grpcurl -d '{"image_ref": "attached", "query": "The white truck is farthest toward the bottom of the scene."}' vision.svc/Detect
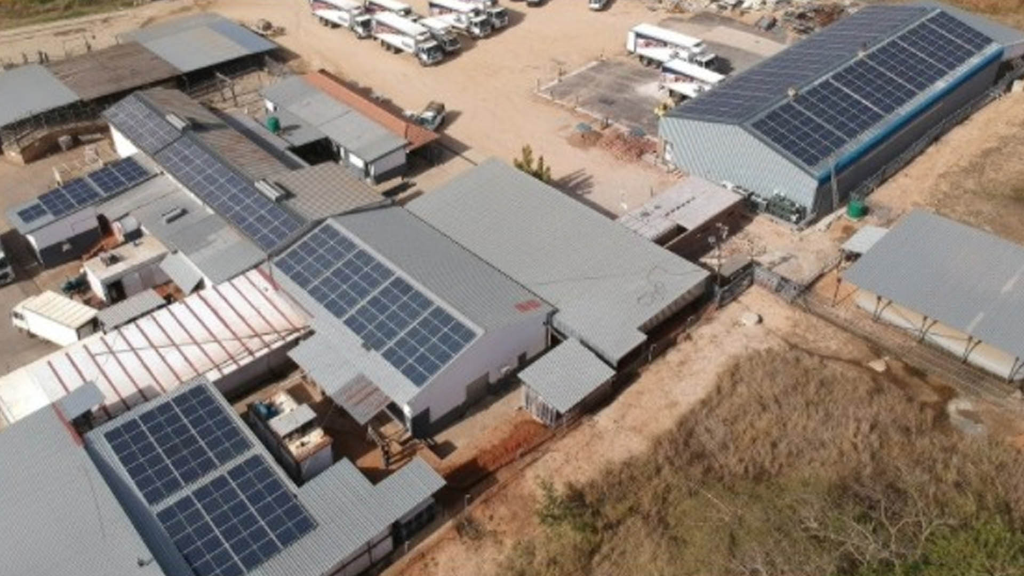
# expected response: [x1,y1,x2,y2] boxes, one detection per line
[0,290,95,348]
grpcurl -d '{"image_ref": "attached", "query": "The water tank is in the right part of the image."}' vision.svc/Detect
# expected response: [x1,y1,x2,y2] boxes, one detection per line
[844,197,870,222]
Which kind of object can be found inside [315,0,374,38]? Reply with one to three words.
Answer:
truck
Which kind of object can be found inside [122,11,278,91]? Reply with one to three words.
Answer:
shed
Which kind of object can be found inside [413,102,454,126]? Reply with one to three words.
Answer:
truck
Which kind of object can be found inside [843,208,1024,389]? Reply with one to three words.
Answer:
shed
